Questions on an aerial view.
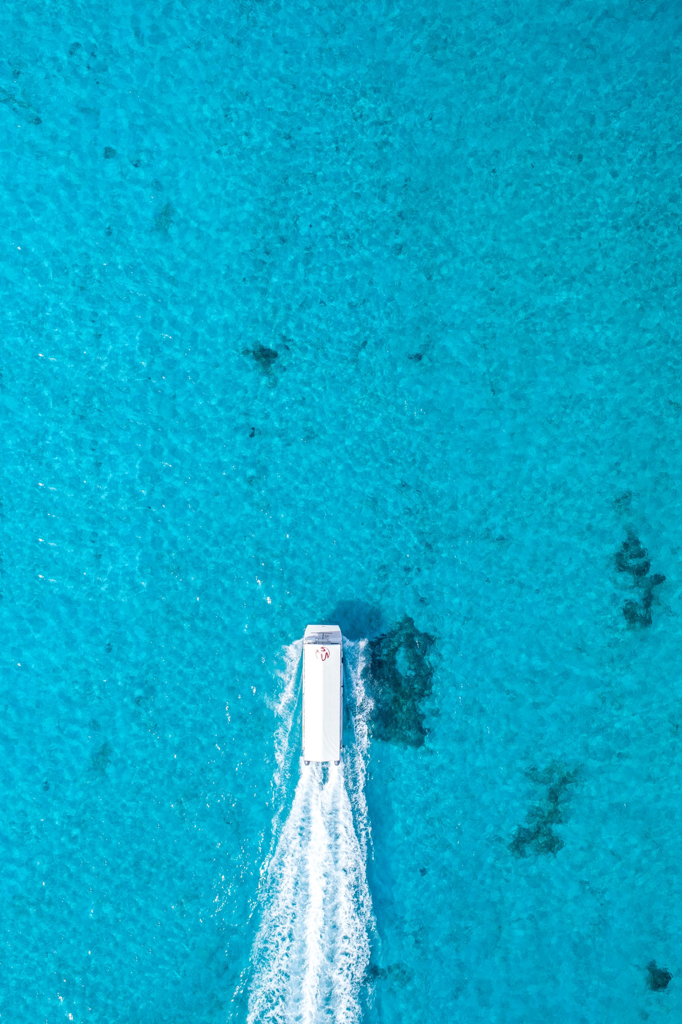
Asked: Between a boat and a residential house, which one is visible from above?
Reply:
boat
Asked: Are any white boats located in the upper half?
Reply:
No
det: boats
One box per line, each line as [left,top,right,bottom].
[303,624,343,766]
